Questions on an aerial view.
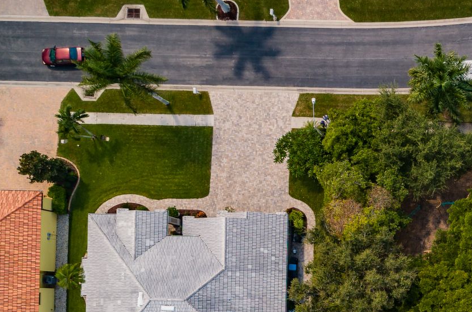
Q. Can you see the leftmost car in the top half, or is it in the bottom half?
top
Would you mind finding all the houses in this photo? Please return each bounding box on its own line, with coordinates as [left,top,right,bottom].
[0,188,58,312]
[85,206,292,312]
